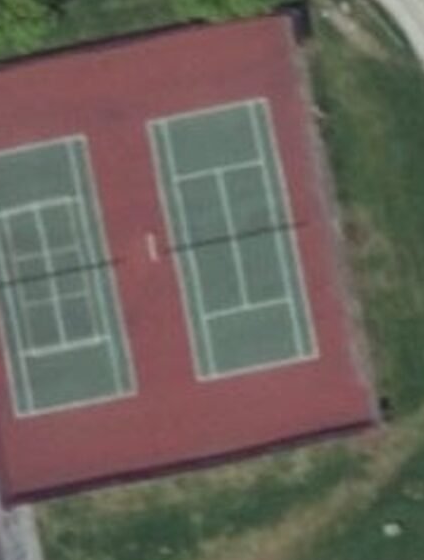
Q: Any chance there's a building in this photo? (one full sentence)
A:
No, the photo shows no building.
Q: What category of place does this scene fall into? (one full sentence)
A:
The area seen from above is a sports ground.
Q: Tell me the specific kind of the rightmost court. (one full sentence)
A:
The rightmost court can be classified as a tennis court.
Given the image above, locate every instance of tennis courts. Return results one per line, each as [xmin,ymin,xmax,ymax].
[147,99,319,381]
[0,134,138,418]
